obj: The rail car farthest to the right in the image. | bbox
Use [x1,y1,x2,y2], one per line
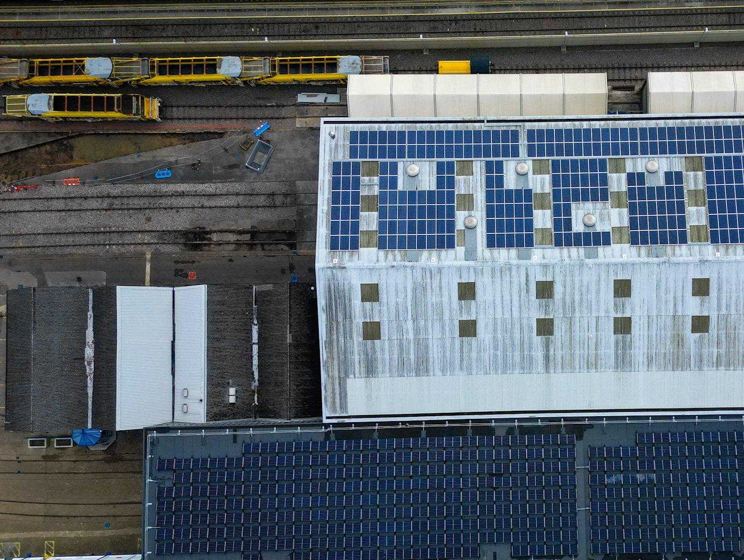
[436,56,495,73]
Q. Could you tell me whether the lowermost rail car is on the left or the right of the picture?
left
